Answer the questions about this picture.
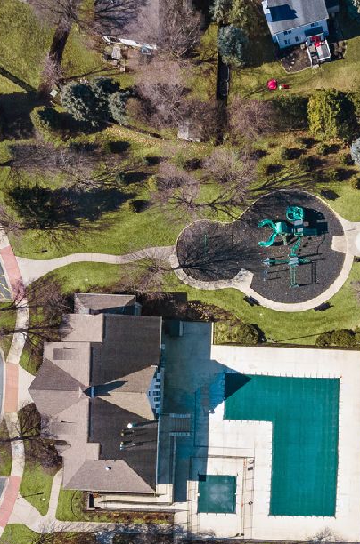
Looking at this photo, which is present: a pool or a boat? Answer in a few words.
pool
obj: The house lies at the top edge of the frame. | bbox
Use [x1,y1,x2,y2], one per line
[255,0,346,49]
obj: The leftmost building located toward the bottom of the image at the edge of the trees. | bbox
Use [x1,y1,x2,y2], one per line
[27,294,170,491]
